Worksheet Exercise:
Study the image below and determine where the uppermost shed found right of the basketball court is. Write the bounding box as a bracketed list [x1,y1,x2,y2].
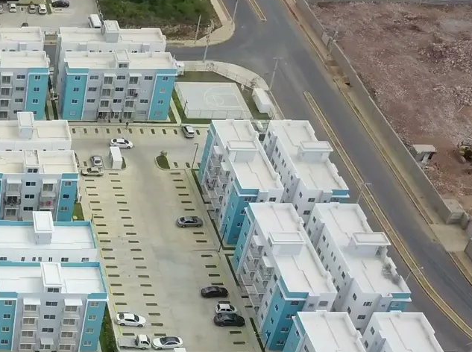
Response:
[251,90,274,111]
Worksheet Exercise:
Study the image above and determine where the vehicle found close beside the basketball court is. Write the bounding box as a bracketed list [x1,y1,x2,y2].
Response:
[179,124,197,139]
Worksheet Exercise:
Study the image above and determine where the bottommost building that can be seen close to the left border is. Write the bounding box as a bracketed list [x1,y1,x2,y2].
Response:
[0,262,110,352]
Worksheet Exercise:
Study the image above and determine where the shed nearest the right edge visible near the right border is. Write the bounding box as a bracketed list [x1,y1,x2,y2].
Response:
[439,196,472,223]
